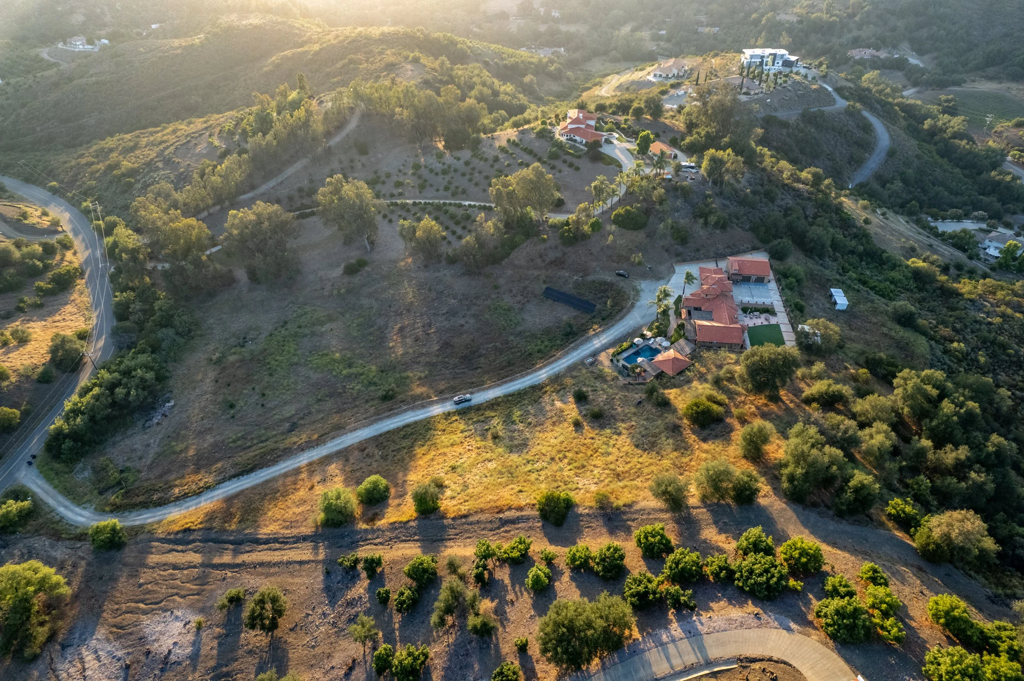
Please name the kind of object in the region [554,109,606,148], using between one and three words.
house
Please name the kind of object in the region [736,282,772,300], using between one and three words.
sports court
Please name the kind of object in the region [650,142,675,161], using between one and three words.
building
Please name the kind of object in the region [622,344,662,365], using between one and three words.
swimming pool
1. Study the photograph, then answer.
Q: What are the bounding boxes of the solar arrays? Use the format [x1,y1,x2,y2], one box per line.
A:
[542,287,596,314]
